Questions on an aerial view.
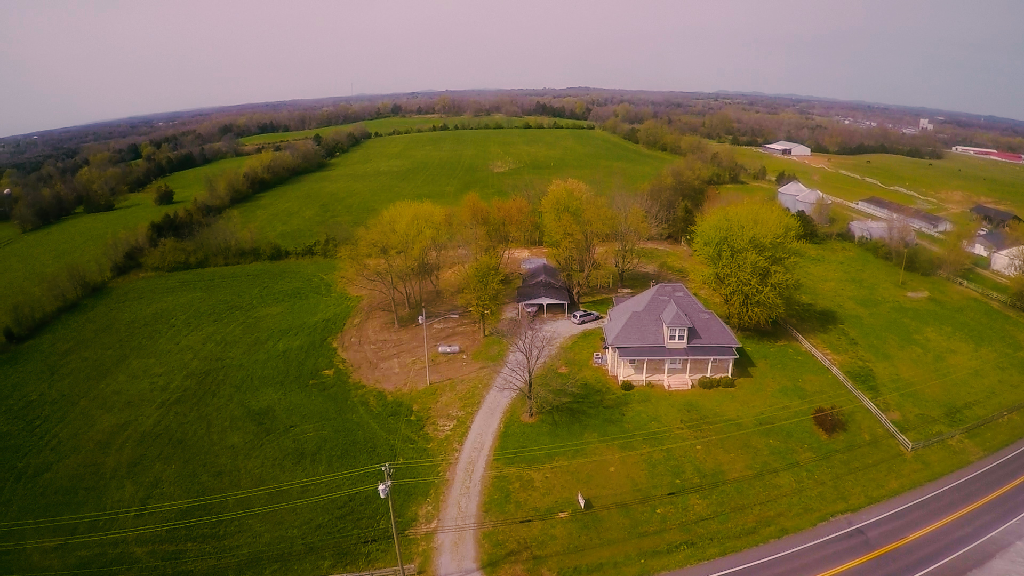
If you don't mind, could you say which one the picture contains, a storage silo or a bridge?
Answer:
storage silo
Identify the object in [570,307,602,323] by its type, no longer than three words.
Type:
car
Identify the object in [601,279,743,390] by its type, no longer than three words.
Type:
house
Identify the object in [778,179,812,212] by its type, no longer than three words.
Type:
silo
